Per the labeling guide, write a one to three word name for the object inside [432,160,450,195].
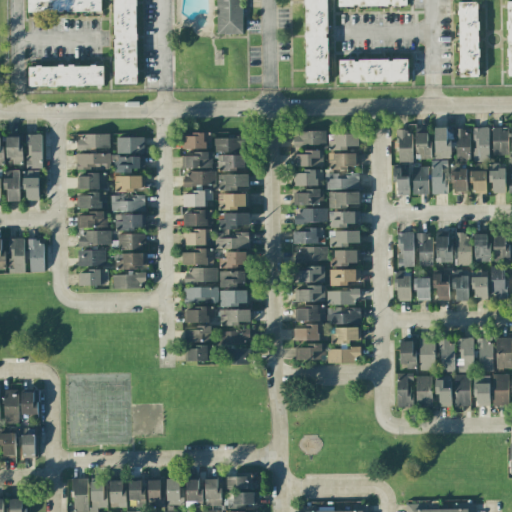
house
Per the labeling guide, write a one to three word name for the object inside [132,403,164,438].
basketball court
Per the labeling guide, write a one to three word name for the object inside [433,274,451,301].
house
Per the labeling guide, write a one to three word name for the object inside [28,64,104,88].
building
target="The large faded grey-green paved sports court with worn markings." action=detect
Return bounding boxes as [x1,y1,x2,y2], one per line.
[66,372,132,446]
